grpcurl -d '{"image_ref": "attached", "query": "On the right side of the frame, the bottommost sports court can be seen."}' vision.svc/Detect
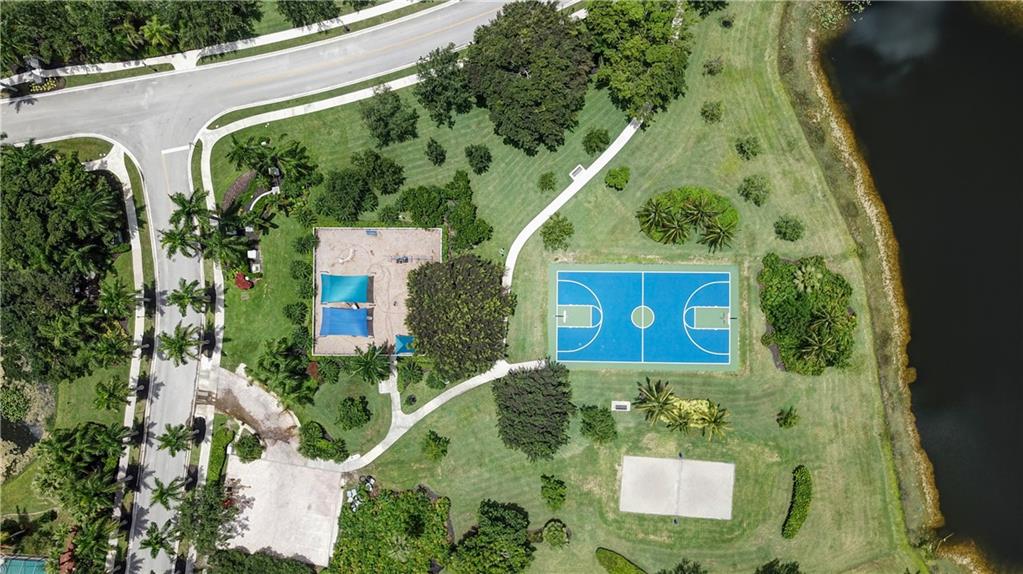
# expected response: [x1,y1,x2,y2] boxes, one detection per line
[619,454,735,526]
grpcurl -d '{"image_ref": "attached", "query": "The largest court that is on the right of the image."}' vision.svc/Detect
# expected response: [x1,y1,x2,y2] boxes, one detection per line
[549,265,739,369]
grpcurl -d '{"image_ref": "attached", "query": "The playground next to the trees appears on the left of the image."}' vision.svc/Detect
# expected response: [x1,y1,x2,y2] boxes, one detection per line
[312,228,443,356]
